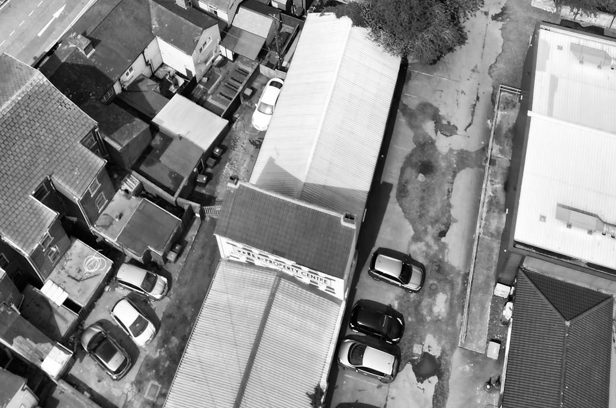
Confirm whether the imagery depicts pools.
No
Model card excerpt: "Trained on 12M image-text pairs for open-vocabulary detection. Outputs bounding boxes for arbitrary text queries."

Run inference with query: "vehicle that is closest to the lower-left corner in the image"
[76,324,137,386]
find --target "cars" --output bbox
[249,78,284,132]
[113,261,172,303]
[107,294,159,349]
[76,324,137,386]
[370,258,424,292]
[336,341,399,382]
[348,304,405,342]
